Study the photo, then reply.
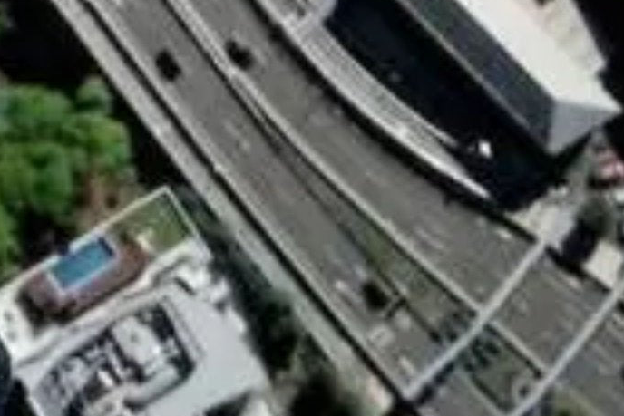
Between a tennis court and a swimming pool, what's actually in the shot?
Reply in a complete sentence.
This aerial view contains a swimming pool.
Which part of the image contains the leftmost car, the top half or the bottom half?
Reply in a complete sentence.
You can find the leftmost car in the top half.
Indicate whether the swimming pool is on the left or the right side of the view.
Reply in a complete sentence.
The swimming pool is on the left side of the image.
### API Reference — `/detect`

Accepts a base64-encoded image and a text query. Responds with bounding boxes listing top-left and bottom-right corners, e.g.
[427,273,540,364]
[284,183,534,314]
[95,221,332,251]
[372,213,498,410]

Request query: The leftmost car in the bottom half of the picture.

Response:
[355,274,396,318]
